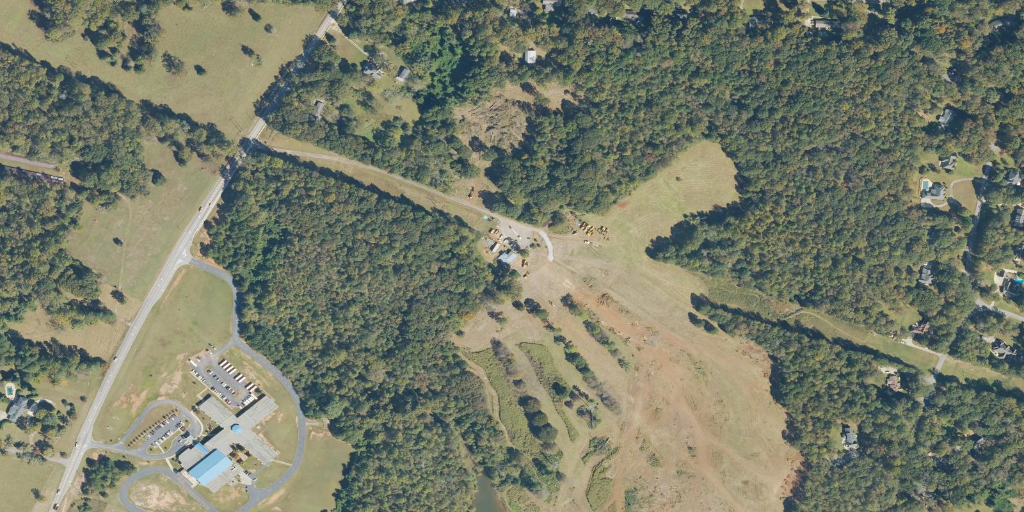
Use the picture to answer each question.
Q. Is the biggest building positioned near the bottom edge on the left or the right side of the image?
left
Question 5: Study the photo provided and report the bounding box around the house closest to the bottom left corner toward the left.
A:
[6,394,28,423]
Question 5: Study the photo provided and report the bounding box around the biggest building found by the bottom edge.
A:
[178,395,278,493]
